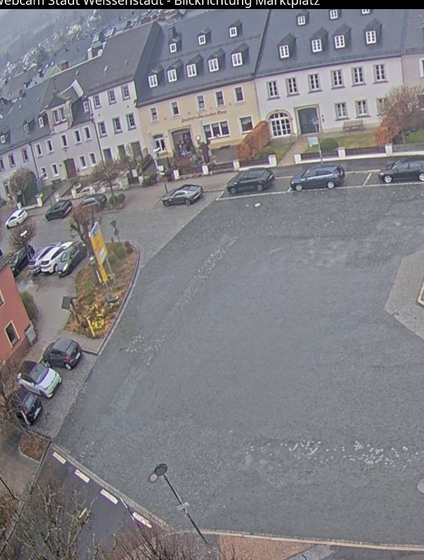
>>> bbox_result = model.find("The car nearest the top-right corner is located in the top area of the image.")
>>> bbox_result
[375,153,424,183]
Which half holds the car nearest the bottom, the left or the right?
left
